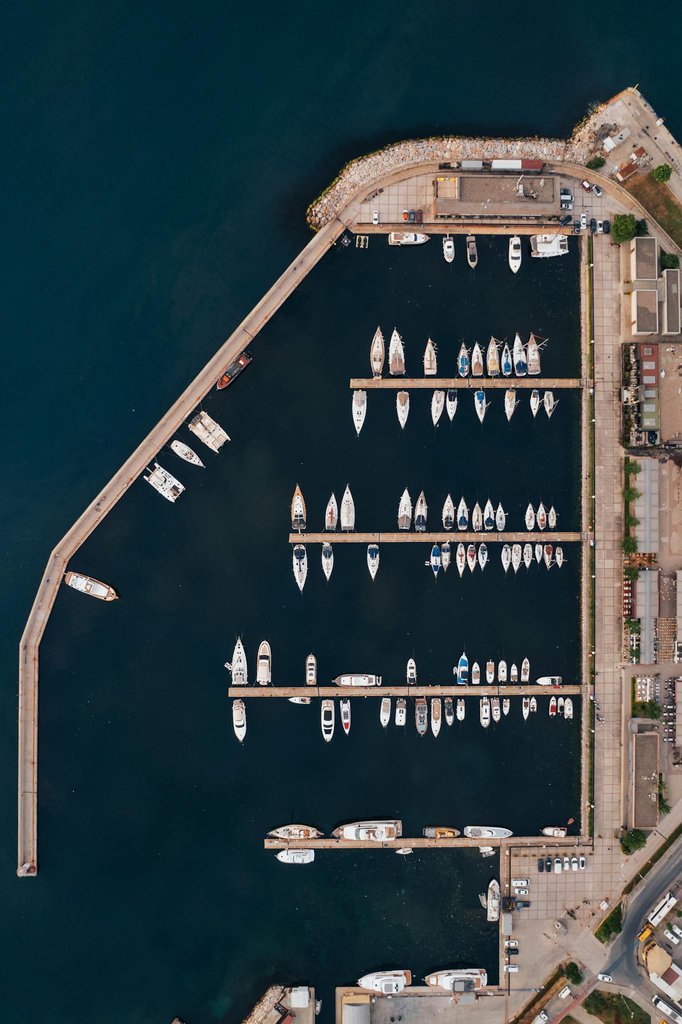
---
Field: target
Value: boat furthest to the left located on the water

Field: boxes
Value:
[62,572,115,600]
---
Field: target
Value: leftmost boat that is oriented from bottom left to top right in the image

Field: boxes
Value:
[217,354,250,389]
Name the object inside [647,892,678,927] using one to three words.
bus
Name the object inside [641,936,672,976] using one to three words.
house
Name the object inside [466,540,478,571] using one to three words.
boat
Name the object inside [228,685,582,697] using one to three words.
pier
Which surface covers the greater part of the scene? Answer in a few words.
water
